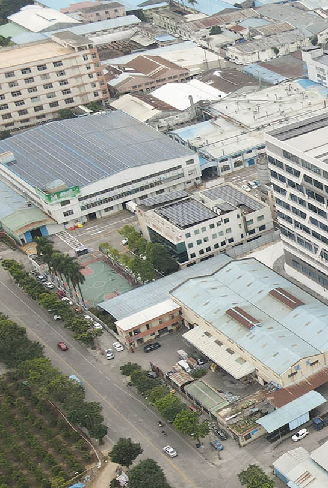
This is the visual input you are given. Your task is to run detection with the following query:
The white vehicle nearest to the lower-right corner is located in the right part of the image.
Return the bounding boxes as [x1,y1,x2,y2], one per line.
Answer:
[290,426,310,443]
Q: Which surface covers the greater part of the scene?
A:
buildings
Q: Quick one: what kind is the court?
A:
basketball court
